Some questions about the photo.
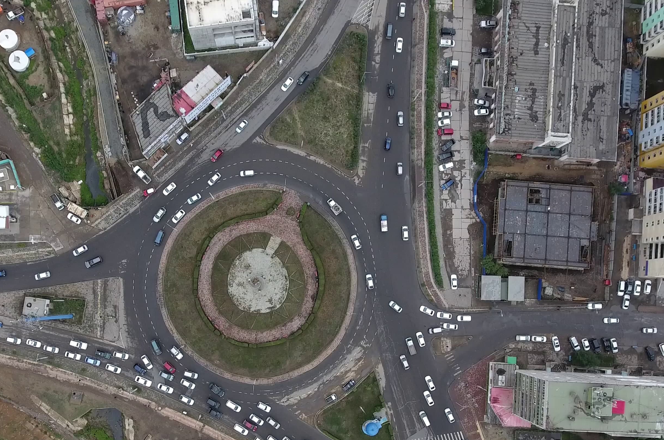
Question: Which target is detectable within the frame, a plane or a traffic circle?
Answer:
traffic circle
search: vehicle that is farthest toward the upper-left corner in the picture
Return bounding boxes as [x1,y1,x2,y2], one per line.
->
[6,7,26,23]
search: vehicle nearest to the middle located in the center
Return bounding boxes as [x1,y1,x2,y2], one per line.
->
[327,198,343,216]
